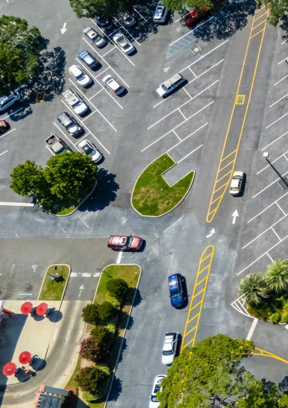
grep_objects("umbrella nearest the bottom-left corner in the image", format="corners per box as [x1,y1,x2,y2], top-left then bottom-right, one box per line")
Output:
[2,362,19,376]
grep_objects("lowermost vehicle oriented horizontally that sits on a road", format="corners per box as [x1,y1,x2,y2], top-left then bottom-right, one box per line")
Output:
[104,234,145,251]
